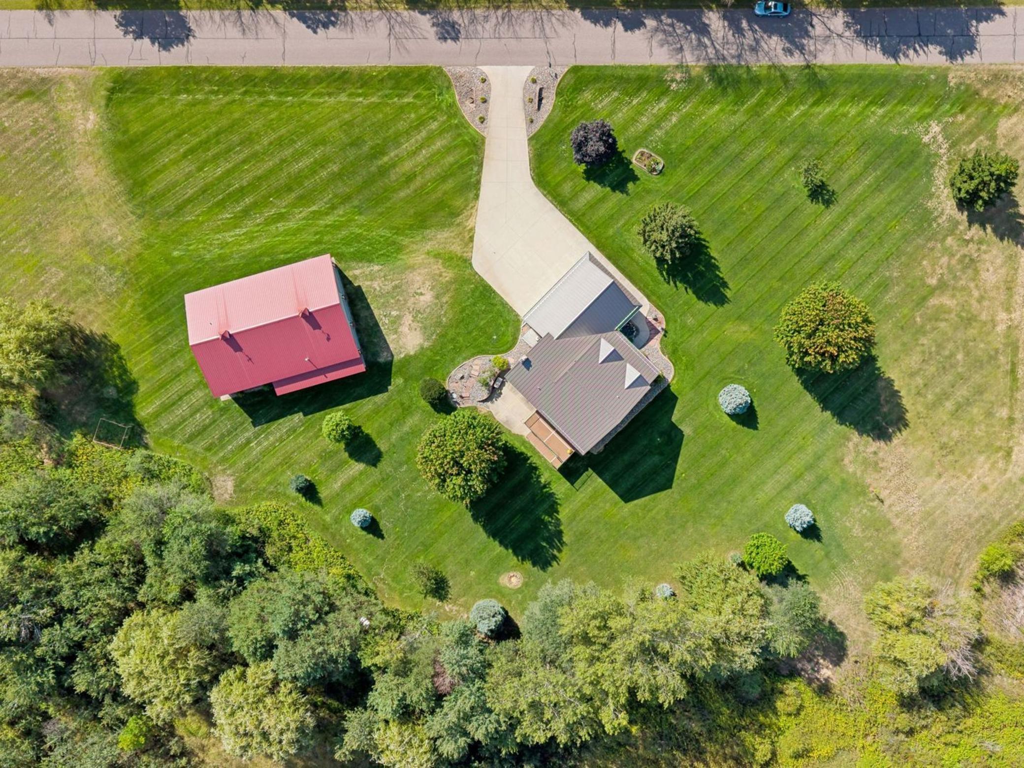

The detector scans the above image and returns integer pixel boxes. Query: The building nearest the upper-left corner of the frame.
[183,253,369,399]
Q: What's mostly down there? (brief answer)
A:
grass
